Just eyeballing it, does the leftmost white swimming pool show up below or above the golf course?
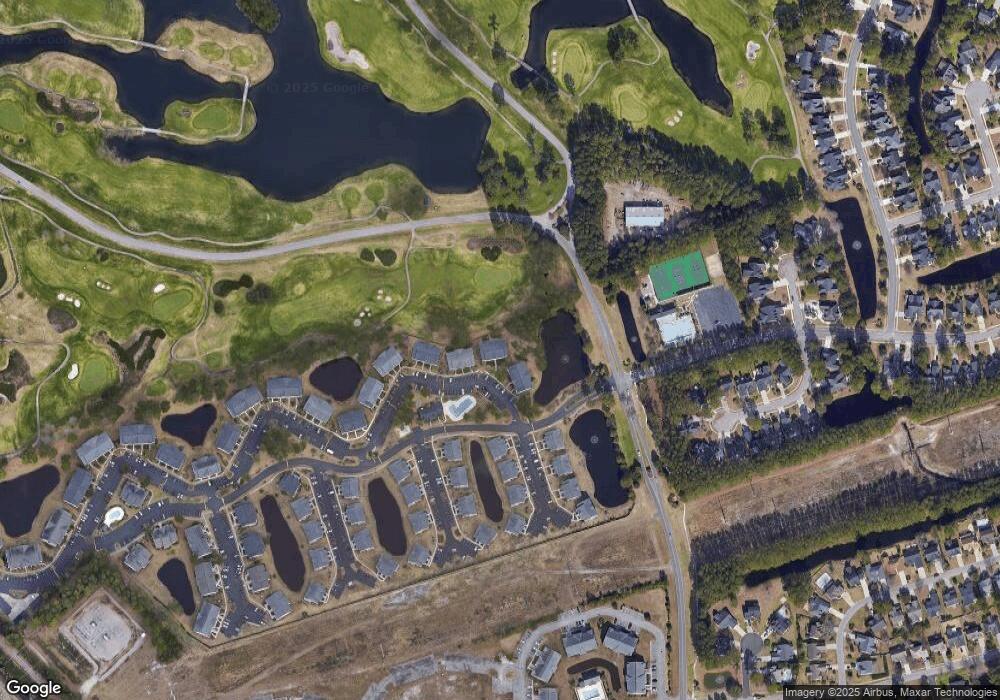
below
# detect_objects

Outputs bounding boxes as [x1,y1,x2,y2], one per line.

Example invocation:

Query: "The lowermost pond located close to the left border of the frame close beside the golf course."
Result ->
[0,465,60,537]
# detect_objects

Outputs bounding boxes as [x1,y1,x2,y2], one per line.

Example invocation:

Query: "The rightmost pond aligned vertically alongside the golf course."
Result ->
[824,198,876,319]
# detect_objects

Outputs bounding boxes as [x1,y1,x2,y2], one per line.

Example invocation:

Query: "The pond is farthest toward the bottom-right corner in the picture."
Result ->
[824,368,911,426]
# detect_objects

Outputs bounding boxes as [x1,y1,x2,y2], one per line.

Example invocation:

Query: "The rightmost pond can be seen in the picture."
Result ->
[918,247,1000,286]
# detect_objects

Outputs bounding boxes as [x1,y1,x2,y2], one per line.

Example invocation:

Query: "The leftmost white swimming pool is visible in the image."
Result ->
[104,507,124,526]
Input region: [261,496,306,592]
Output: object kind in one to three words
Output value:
pond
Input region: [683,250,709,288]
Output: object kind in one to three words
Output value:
tennis court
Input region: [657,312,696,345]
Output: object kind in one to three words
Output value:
swimming pool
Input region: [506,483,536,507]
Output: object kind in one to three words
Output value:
building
